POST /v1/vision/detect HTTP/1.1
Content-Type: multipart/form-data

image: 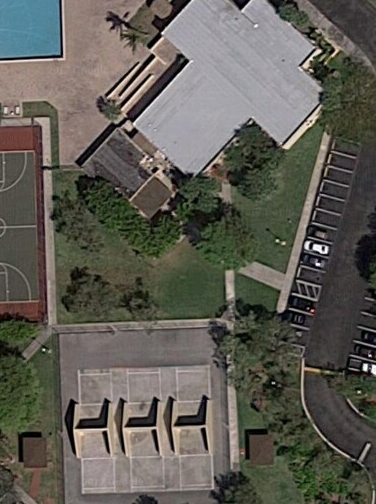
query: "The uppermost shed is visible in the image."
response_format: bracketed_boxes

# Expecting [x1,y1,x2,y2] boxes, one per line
[151,0,173,18]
